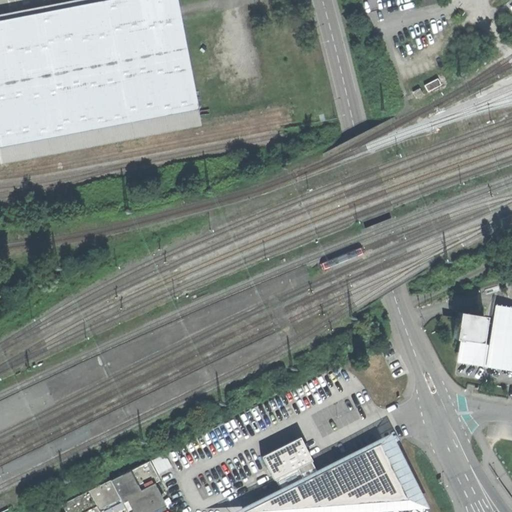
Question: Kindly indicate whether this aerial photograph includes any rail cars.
Yes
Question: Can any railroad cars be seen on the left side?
No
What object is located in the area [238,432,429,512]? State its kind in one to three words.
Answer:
building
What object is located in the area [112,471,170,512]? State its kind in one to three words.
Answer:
building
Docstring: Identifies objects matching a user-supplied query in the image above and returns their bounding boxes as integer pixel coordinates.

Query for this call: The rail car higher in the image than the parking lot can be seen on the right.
[320,246,364,271]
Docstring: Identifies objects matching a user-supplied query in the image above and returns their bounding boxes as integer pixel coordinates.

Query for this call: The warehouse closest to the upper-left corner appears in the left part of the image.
[0,0,209,166]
